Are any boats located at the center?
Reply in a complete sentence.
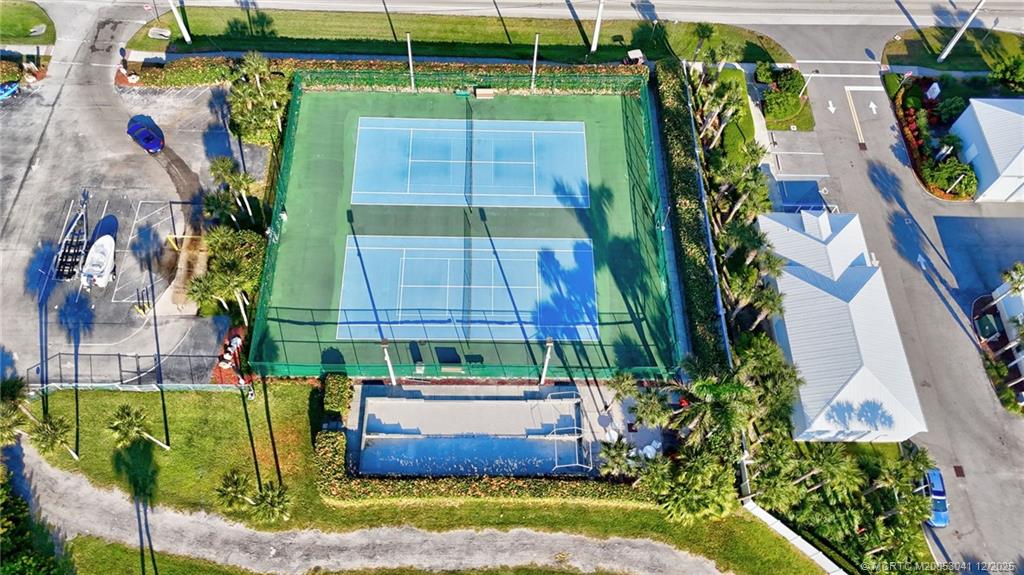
No, at the center there is no boat.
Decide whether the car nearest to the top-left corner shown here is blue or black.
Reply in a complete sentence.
The color of the car nearest to the top-left corner is blue.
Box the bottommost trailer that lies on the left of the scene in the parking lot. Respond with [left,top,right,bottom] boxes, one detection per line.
[60,200,92,265]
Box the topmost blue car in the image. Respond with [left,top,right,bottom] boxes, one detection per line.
[126,121,165,153]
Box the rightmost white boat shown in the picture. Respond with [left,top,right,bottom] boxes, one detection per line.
[80,235,115,296]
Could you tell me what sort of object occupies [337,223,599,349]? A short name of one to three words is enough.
tennis court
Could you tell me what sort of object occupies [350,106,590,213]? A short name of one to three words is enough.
tennis court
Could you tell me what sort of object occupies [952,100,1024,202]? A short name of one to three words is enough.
building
